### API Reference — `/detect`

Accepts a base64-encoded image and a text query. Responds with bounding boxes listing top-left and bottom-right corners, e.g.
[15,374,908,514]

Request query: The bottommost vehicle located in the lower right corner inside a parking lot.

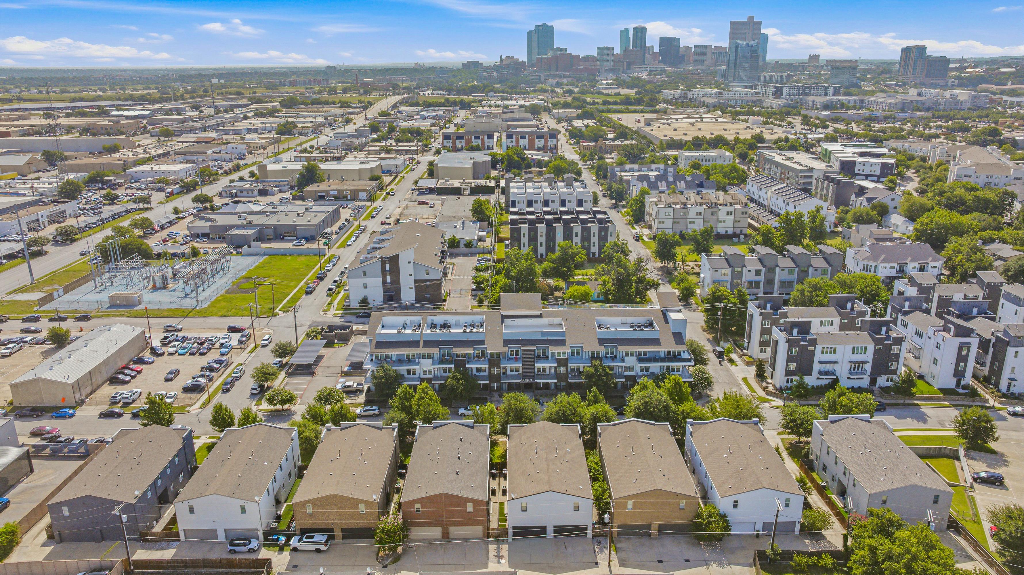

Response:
[969,469,1006,485]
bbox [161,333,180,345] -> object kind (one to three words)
vehicle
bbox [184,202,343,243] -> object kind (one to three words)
building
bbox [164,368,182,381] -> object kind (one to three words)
vehicle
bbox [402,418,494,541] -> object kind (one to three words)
house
